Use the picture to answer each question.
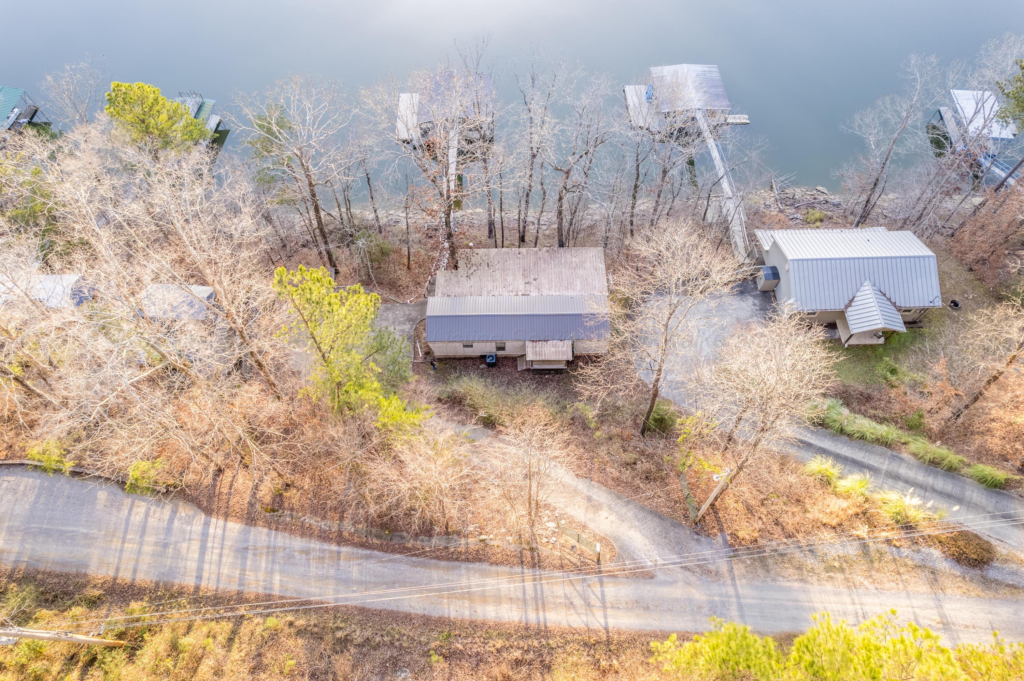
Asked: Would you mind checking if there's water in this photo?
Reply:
Yes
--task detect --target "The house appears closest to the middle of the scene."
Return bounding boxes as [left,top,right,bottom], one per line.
[421,247,611,373]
